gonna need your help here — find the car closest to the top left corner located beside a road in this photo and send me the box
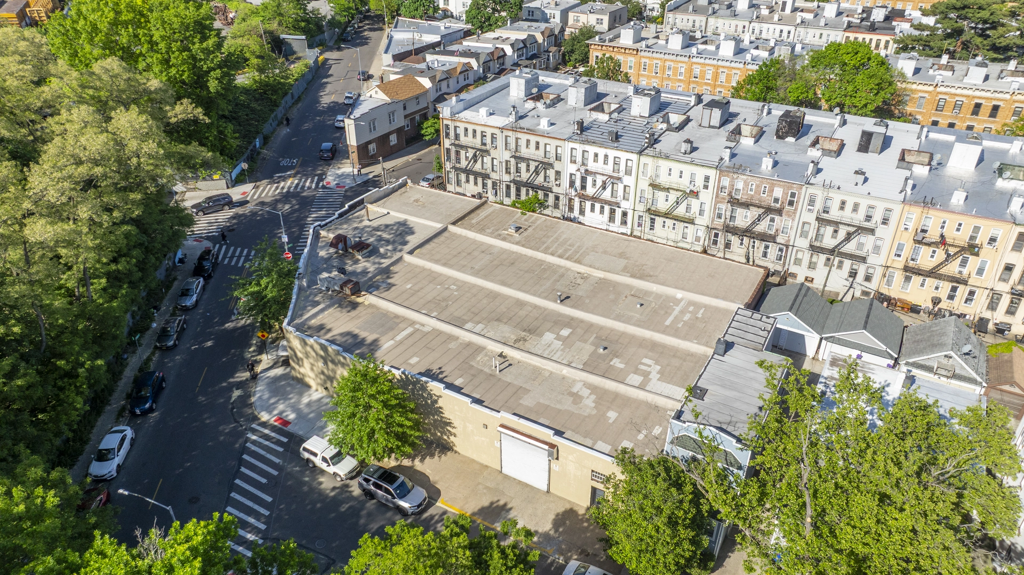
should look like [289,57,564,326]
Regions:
[188,192,234,213]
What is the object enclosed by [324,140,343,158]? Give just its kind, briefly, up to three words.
car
